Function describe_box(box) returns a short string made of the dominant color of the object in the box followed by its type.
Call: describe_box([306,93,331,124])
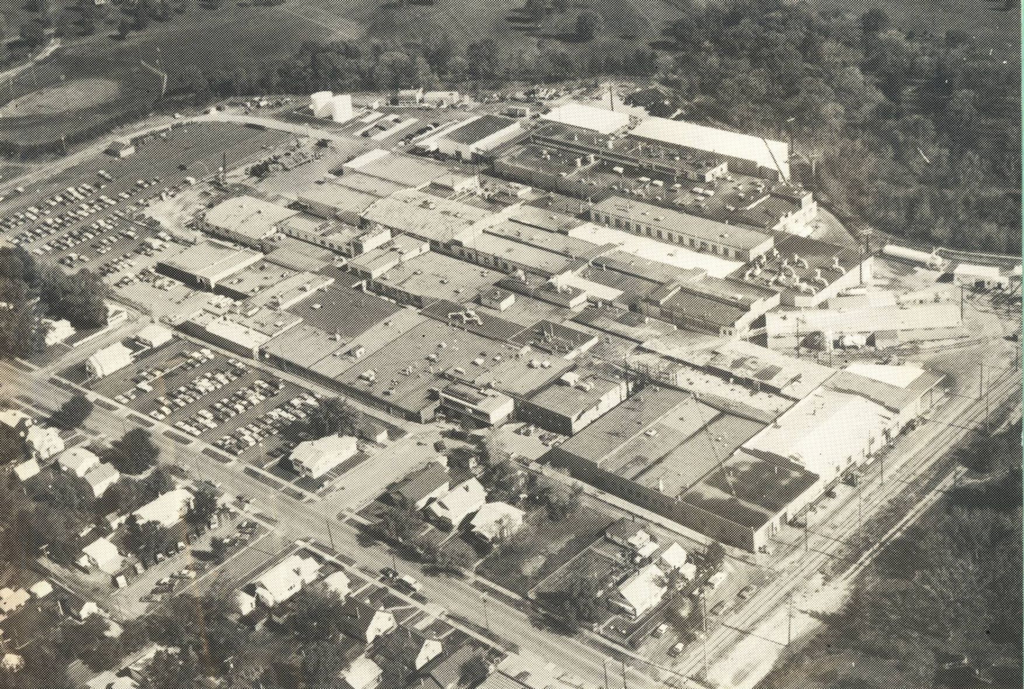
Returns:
white water tank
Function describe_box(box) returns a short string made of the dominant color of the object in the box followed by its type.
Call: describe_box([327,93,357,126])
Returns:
white water tank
